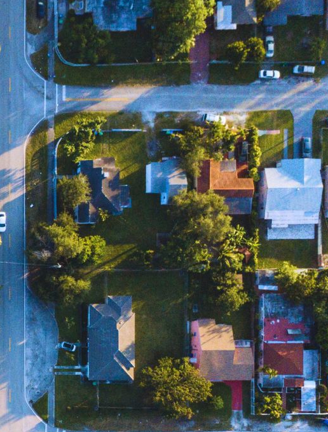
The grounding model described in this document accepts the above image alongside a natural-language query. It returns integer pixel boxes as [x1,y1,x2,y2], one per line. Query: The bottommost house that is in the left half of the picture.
[85,295,136,382]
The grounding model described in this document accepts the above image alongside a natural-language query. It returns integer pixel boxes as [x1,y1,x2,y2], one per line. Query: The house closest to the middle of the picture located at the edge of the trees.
[140,161,188,206]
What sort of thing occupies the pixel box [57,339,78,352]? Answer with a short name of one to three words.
vehicle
